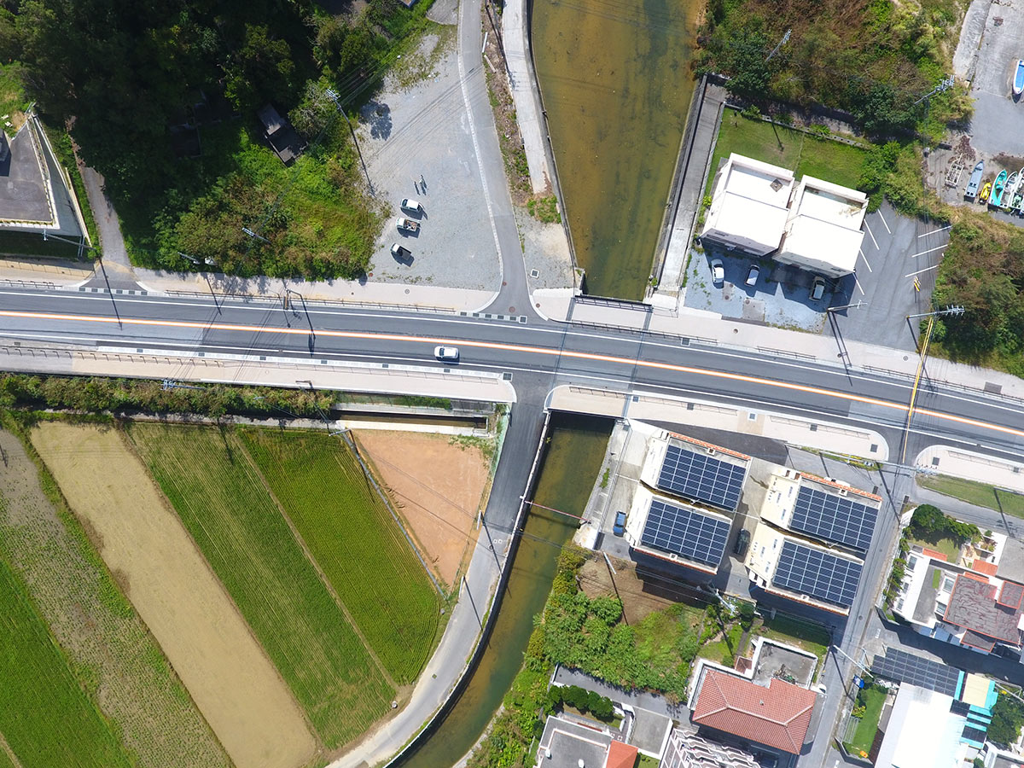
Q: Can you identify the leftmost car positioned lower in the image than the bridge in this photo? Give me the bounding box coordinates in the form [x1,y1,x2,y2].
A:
[614,511,626,536]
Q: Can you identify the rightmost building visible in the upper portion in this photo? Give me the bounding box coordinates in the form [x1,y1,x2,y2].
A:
[767,176,866,280]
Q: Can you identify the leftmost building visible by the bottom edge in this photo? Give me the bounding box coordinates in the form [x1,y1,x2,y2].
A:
[523,706,638,768]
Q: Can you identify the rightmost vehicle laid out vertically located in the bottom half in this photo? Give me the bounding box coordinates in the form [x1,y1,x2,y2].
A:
[736,530,751,558]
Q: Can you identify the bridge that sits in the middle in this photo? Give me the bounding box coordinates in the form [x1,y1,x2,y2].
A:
[548,293,654,421]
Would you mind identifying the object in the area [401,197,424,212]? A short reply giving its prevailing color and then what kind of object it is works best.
white vehicle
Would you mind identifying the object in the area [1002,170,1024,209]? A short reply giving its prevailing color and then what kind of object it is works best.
white boat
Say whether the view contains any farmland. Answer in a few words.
Yes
